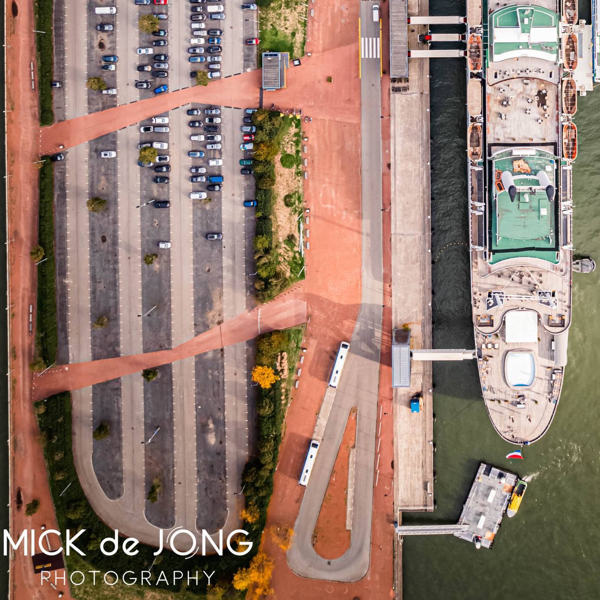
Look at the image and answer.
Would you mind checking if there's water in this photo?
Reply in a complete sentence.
Yes, the picture does contain water.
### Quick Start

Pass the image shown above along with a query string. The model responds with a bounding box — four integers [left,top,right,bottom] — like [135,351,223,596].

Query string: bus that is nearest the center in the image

[329,340,349,387]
